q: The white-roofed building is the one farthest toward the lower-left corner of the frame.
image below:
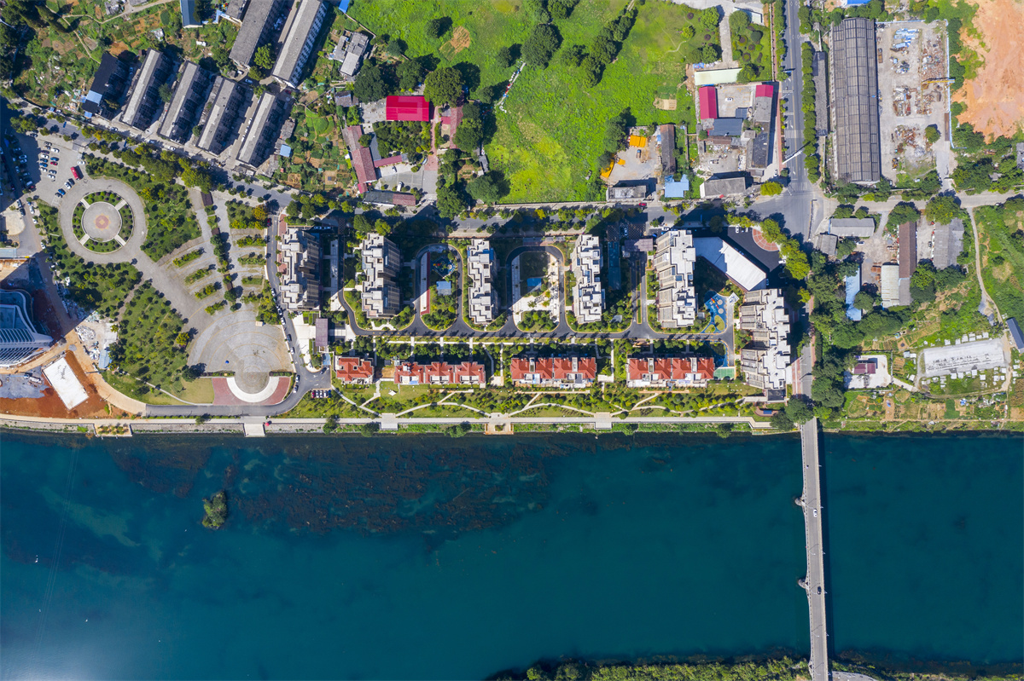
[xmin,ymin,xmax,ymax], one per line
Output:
[42,357,93,411]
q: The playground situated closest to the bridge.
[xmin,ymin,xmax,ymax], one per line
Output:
[702,291,728,333]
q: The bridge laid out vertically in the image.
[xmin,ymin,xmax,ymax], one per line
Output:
[789,419,829,681]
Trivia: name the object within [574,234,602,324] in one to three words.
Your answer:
building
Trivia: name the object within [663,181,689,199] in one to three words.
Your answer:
shed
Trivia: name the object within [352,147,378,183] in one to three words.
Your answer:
house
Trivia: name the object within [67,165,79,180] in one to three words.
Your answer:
vehicle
